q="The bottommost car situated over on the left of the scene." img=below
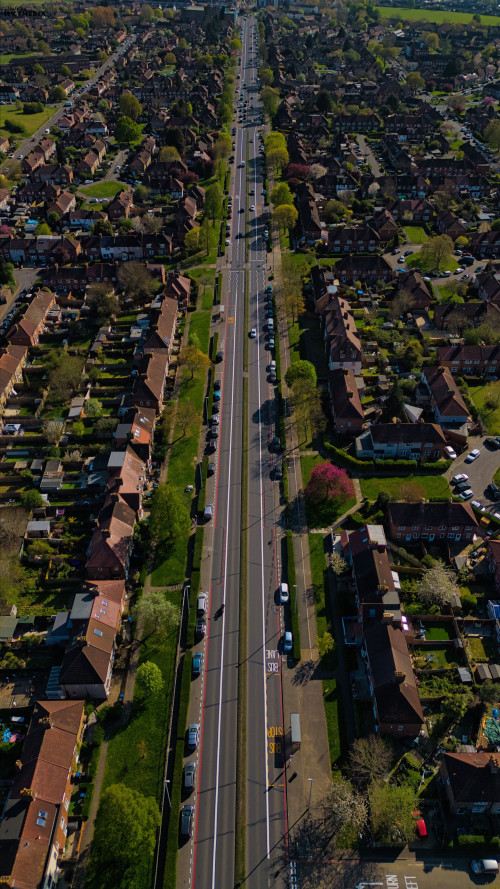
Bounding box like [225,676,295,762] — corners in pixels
[181,808,194,835]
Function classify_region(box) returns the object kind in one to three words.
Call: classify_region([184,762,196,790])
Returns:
vehicle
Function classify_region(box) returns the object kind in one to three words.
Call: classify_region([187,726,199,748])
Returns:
vehicle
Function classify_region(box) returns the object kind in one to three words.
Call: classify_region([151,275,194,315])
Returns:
house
